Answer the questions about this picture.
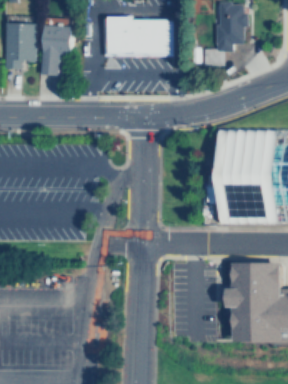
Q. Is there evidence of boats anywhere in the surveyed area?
No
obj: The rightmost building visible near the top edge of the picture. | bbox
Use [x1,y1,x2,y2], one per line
[218,1,251,52]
